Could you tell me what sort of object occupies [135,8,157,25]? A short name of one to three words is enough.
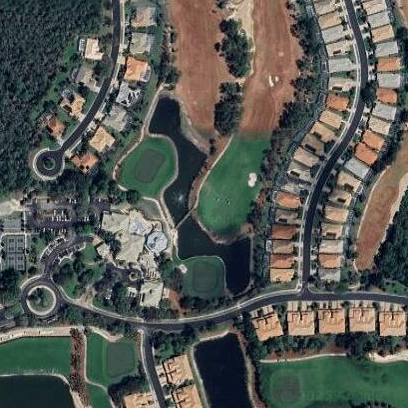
house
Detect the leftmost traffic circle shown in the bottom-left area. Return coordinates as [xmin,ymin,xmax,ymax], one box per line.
[20,279,61,320]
